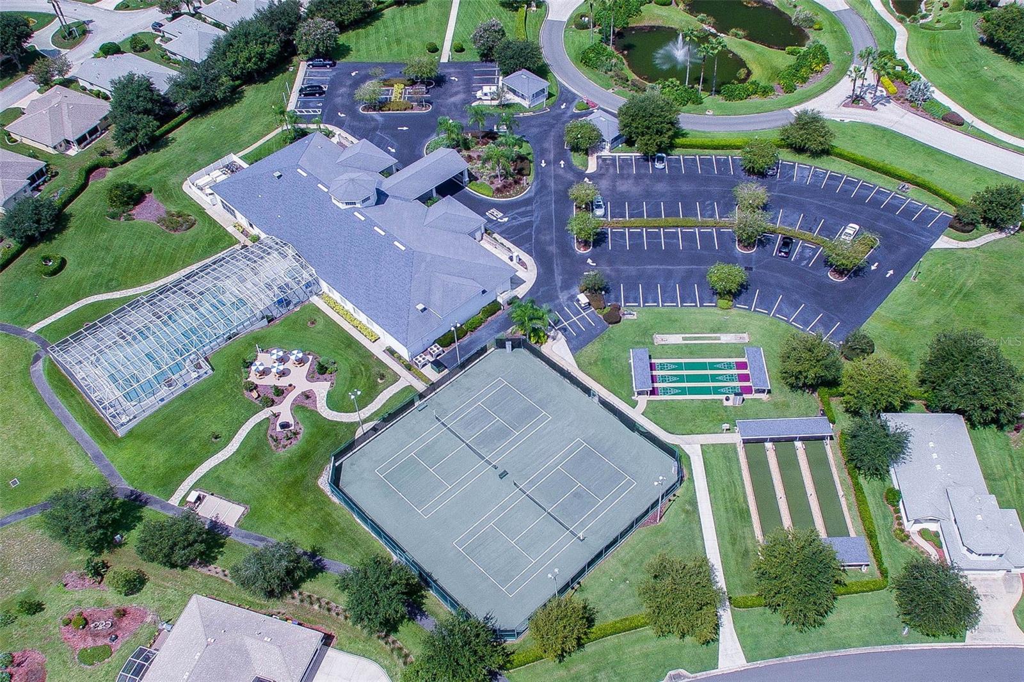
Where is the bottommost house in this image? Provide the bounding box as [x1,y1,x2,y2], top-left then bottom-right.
[141,594,324,682]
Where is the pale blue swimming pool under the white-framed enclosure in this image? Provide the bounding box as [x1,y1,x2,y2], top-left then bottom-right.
[101,292,265,411]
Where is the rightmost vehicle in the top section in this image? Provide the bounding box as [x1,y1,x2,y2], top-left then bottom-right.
[840,222,860,243]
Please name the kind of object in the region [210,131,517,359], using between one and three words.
building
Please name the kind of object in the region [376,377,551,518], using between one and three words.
tennis court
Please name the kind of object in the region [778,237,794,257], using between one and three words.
car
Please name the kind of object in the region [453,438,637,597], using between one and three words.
tennis court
